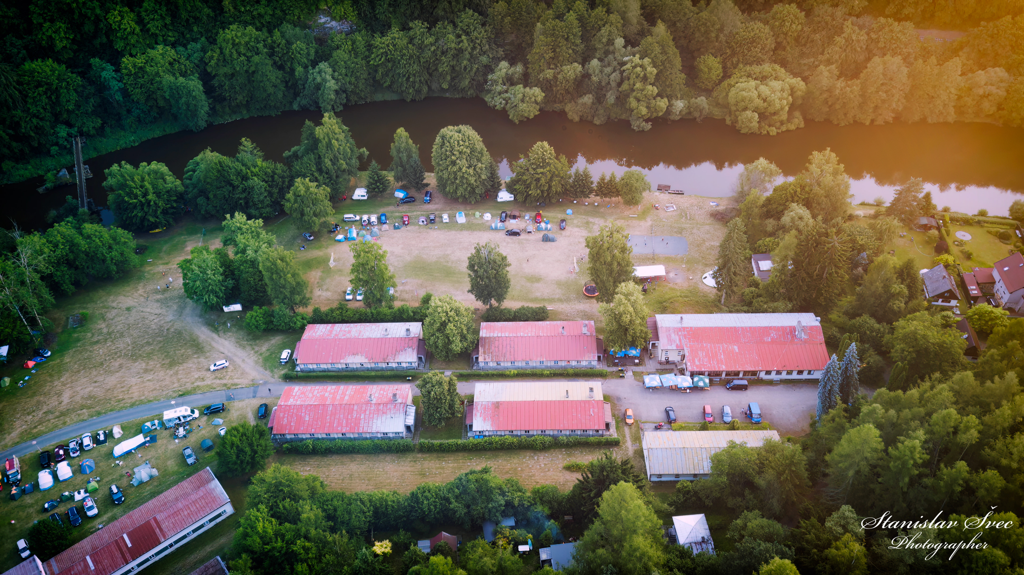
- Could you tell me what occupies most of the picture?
trees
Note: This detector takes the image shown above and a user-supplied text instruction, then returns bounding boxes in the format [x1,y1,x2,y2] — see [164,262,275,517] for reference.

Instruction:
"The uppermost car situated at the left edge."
[32,347,52,359]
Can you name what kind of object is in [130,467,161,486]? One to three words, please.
tent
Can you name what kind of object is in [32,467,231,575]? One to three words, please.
barn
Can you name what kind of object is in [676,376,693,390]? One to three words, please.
umbrella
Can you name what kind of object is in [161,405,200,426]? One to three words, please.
camper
